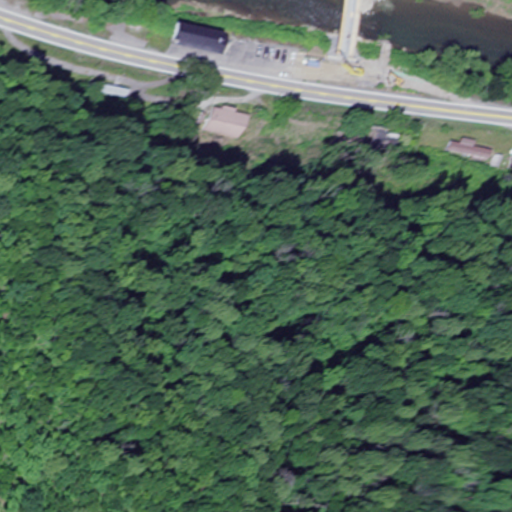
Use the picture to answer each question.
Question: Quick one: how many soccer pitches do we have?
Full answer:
I count no soccer pitches.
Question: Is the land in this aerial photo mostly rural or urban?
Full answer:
The area shown here is rural.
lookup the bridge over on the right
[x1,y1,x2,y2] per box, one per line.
[334,0,359,60]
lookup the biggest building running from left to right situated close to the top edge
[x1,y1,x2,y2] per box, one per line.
[174,19,228,54]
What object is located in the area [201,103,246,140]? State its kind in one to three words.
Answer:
house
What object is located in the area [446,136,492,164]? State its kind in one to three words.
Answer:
house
